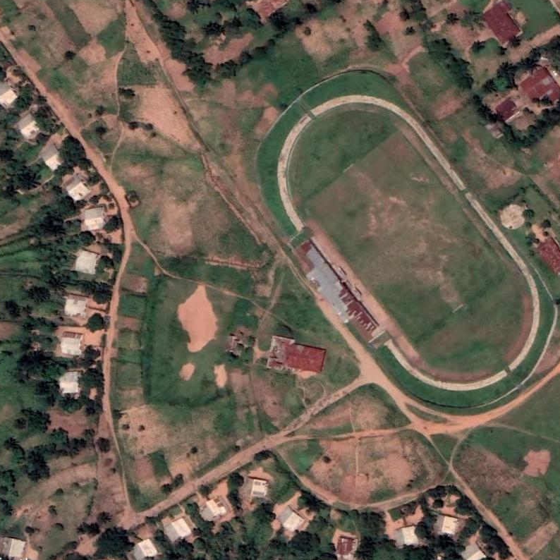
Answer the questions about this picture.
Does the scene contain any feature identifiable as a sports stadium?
Yes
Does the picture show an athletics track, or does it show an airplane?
athletics track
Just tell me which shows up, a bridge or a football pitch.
football pitch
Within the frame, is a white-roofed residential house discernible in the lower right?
Yes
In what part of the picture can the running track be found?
right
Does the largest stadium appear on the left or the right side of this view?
right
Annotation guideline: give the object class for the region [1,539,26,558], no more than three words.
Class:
house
